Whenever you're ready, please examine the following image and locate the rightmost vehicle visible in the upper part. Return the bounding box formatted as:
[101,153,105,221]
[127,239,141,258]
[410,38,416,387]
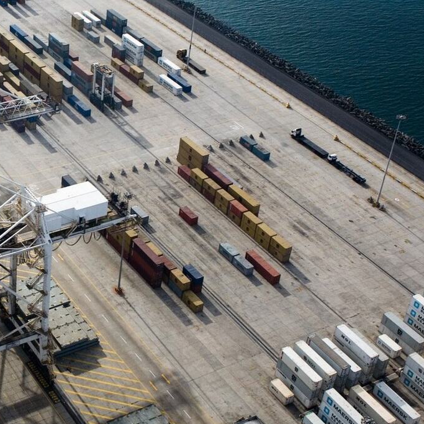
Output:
[326,150,369,183]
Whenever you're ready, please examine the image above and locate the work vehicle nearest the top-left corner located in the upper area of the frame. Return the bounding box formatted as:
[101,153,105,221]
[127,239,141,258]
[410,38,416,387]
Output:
[91,63,119,111]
